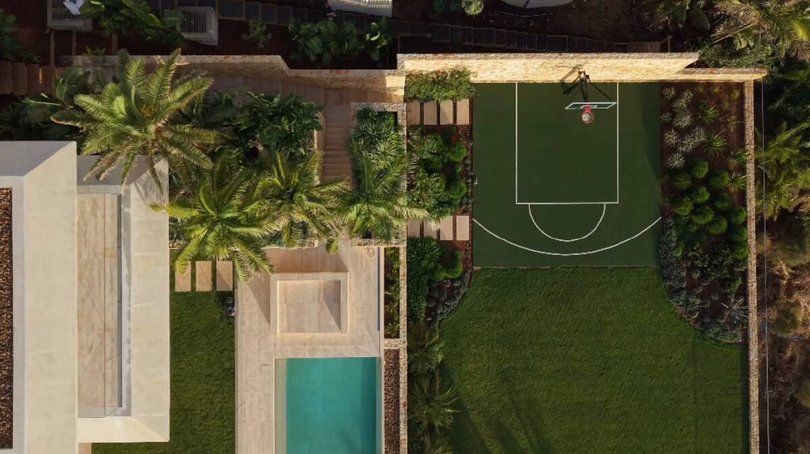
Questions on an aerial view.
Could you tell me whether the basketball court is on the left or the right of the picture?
right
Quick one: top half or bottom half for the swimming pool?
bottom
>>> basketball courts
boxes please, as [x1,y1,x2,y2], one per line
[472,81,662,267]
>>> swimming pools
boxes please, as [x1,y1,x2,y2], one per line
[274,358,381,454]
